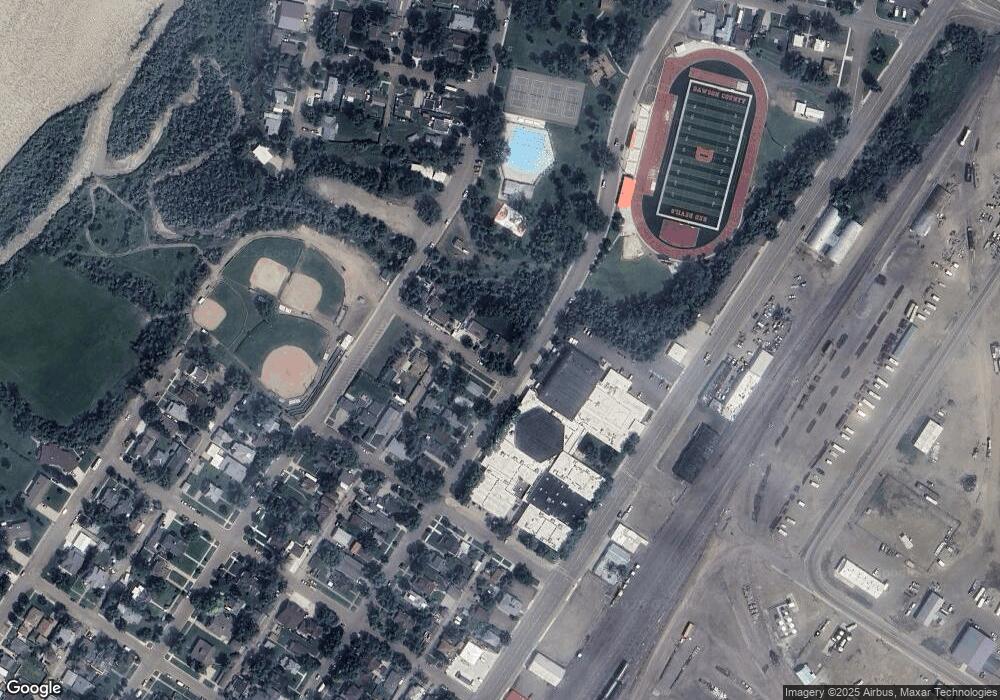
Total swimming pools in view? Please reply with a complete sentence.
My tally gives 1 swimming pool in this photo.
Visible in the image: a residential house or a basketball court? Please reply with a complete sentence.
The image shows a residential house.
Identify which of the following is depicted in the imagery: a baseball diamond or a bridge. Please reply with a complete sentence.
This aerial view contains a baseball diamond.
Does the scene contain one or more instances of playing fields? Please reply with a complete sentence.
Yes, I can see a playing field in this picture.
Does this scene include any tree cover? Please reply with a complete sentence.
Yes, tree cover shows up in the scene.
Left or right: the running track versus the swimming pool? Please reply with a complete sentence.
From the viewer's perspective, the running track falls to the right of the swimming pool.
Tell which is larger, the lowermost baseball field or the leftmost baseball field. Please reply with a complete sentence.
The lowermost baseball field is larger than the leftmost baseball field.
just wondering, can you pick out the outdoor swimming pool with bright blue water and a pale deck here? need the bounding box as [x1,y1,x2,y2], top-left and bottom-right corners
[501,121,554,185]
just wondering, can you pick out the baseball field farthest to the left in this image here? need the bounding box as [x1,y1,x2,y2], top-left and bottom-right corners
[193,279,248,346]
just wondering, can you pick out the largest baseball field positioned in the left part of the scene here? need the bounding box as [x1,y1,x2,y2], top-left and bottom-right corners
[234,314,328,405]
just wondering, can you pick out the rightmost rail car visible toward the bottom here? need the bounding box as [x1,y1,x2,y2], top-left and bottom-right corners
[682,621,695,638]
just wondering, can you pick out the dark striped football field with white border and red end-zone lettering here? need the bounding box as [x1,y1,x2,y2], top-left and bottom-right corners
[657,80,752,229]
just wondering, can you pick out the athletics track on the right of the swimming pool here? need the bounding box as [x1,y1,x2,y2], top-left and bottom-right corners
[630,49,769,260]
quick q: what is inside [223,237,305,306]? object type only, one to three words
baseball field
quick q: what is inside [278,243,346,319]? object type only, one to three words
baseball field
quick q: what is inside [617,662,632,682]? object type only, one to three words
rail car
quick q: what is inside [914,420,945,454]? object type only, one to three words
building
